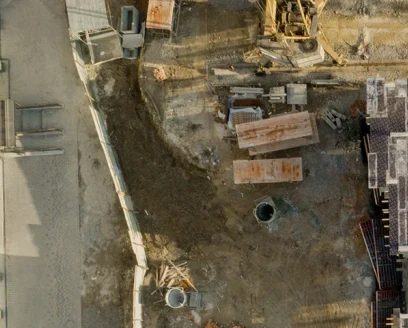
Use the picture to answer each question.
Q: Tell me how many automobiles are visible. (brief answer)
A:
none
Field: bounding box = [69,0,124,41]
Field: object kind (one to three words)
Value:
shed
